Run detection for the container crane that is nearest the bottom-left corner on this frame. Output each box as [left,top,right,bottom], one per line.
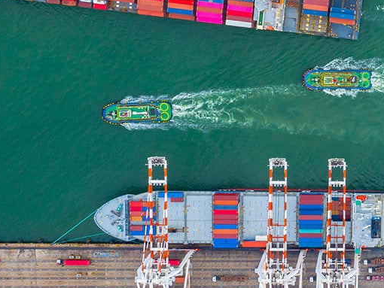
[135,159,203,288]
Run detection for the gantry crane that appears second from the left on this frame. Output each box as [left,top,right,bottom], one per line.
[258,159,313,288]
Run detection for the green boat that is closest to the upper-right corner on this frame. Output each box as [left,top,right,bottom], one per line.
[302,67,372,93]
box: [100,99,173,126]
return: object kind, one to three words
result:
boat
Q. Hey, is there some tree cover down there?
No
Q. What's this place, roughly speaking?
port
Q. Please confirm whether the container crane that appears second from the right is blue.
No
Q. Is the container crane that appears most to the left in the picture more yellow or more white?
white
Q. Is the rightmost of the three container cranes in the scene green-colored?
No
